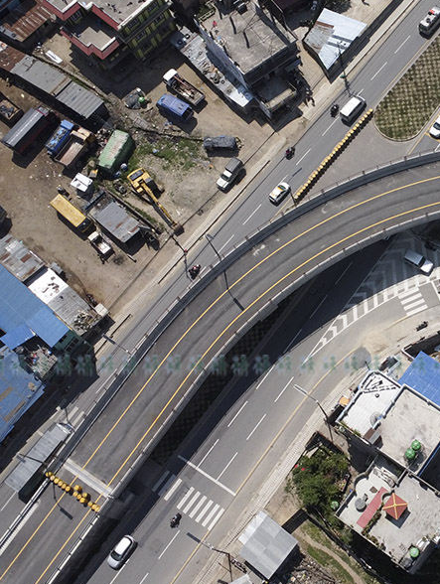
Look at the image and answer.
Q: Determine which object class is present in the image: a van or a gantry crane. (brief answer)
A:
van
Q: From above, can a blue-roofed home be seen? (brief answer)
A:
Yes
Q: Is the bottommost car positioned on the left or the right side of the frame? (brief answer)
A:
left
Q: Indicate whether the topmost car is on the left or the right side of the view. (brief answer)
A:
right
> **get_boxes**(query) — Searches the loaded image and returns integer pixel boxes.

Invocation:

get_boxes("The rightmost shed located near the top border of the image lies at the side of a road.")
[305,9,367,79]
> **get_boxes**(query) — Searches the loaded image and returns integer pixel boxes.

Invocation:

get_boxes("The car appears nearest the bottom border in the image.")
[108,534,139,569]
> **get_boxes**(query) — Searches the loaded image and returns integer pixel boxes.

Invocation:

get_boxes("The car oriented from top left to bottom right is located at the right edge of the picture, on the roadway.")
[402,250,434,276]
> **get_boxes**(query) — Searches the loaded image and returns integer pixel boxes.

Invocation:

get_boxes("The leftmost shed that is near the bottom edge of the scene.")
[240,511,301,578]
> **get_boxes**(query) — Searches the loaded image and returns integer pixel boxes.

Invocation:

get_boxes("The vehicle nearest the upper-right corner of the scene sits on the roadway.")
[418,9,440,37]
